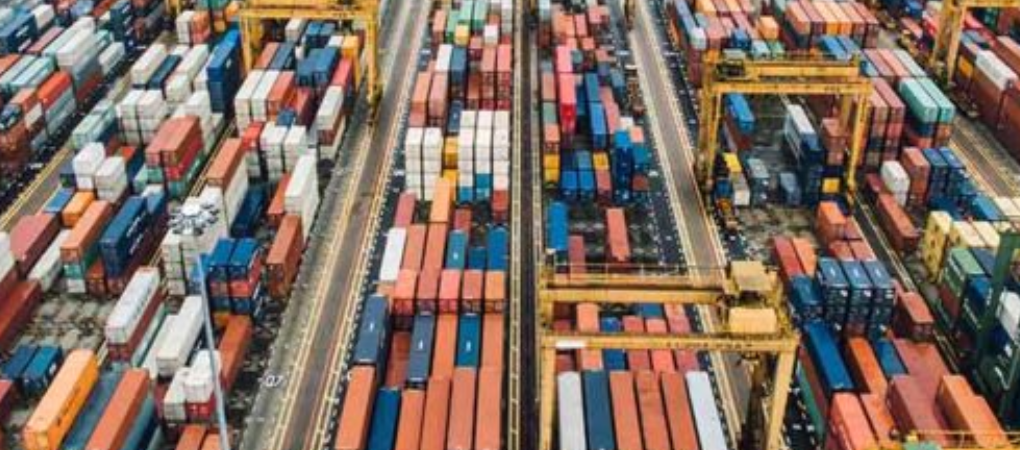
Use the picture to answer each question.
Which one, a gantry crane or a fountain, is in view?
gantry crane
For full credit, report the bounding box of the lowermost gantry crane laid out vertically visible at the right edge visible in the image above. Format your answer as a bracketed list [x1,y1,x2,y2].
[968,221,1020,420]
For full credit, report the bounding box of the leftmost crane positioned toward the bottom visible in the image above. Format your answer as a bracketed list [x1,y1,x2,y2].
[535,262,793,450]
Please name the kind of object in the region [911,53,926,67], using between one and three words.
vehicle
